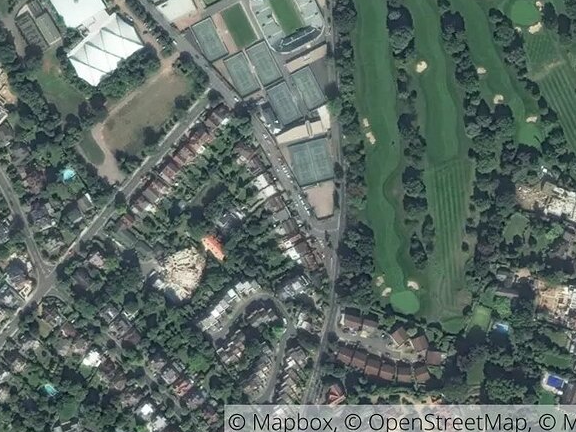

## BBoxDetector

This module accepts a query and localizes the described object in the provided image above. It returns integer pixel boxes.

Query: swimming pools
[494,321,510,333]
[44,383,56,395]
[61,168,76,180]
[546,374,564,390]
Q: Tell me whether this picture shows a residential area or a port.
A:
residential area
